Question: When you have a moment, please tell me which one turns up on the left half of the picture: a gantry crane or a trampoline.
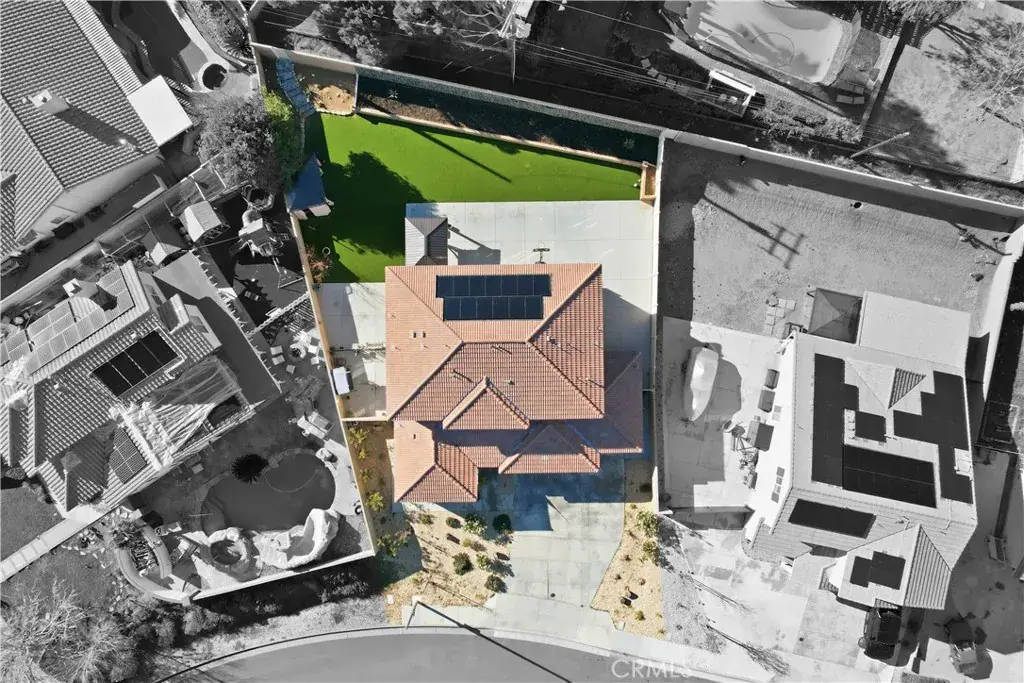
trampoline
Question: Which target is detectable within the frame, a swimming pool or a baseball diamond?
swimming pool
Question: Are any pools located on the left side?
Yes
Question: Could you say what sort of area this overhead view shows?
residential area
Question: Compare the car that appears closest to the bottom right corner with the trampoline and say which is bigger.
the car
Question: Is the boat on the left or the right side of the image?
right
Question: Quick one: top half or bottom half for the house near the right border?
bottom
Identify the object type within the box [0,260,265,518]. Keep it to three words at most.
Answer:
house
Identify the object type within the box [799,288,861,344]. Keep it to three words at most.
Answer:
gazebo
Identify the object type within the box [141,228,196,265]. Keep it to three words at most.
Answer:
shed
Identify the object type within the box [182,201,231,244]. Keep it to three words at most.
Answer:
shed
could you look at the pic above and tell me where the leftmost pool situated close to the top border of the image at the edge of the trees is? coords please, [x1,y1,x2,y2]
[117,0,194,82]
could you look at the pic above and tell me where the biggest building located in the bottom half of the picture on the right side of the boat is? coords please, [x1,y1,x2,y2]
[743,332,978,610]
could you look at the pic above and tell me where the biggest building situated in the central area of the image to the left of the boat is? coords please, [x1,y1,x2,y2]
[385,262,643,505]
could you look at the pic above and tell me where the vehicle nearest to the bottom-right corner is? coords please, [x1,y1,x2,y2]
[938,610,985,674]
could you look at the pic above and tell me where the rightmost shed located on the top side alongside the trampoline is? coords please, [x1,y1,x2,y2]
[288,157,343,219]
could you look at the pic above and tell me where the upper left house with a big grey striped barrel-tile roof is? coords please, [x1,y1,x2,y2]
[0,0,172,244]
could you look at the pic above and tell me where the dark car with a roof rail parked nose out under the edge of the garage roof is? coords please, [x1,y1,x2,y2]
[862,605,907,660]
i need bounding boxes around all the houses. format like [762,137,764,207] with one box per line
[385,262,643,505]
[0,260,265,518]
[743,332,978,610]
[0,0,172,244]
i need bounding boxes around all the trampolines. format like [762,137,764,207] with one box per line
[239,178,277,212]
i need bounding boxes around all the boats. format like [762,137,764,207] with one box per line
[685,347,725,426]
